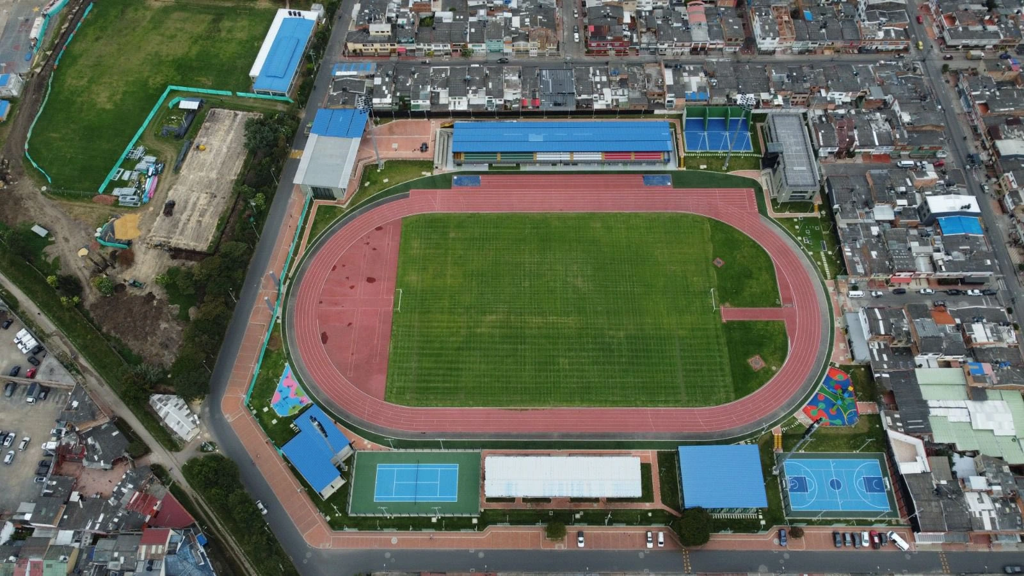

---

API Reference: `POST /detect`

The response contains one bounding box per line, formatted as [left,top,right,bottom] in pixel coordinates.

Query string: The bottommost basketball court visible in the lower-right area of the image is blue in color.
[772,452,903,519]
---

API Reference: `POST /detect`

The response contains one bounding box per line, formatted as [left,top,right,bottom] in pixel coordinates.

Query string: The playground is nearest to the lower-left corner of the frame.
[272,363,313,417]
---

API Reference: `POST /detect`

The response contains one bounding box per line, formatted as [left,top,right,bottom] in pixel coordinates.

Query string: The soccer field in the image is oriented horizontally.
[386,213,798,407]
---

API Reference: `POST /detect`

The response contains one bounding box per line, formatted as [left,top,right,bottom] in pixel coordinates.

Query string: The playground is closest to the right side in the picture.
[803,366,860,427]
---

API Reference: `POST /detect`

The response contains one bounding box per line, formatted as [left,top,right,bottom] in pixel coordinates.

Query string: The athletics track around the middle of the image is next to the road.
[280,169,835,450]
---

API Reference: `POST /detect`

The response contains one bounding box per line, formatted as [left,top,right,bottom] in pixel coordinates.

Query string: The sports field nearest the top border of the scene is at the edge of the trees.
[26,0,282,194]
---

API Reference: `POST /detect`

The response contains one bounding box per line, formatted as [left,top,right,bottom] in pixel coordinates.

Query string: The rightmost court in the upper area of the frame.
[685,106,756,151]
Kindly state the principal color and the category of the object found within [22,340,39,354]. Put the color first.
white vehicle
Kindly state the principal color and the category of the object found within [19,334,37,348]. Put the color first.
white vehicle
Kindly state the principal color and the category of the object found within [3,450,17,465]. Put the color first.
white car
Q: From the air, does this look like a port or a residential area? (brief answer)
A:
residential area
